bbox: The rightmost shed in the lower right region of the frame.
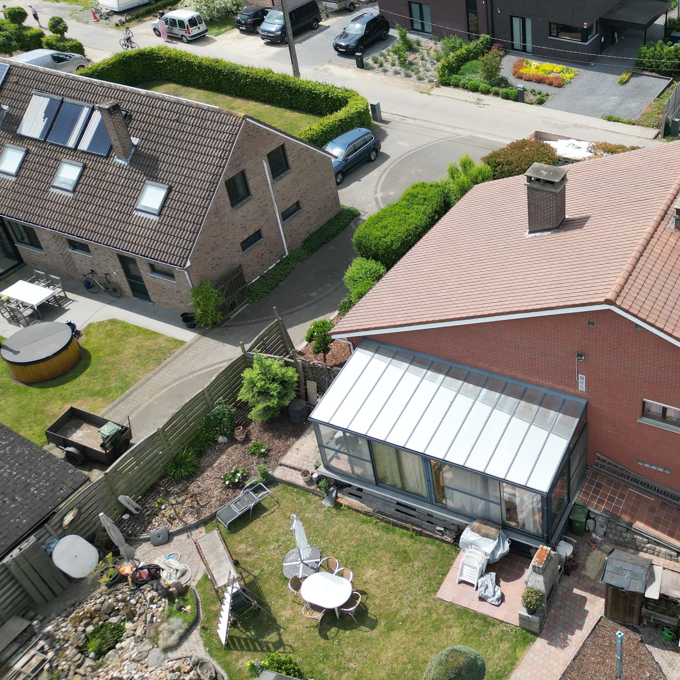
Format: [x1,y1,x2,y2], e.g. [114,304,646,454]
[601,548,654,624]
